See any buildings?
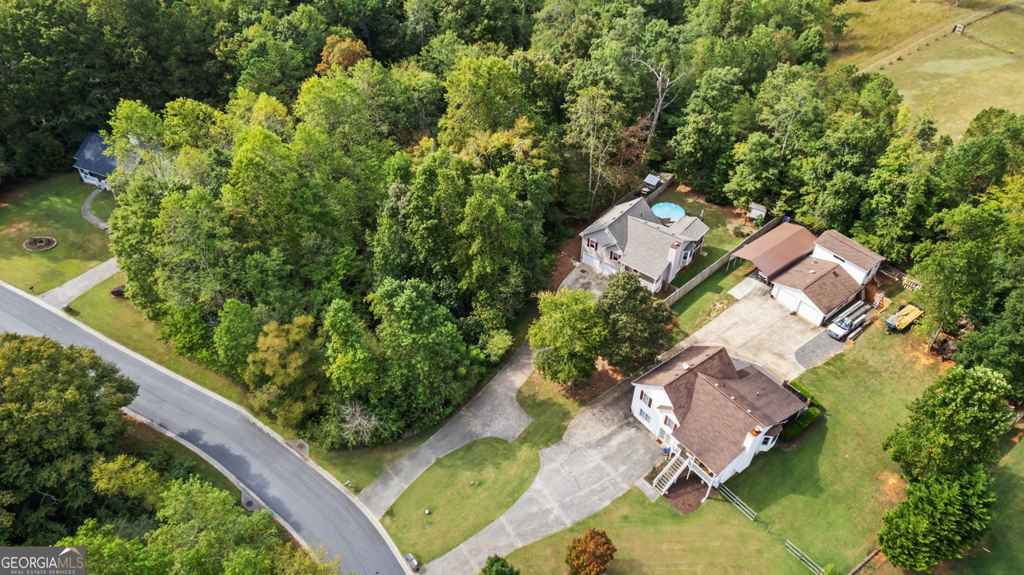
Yes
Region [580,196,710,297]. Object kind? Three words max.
house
